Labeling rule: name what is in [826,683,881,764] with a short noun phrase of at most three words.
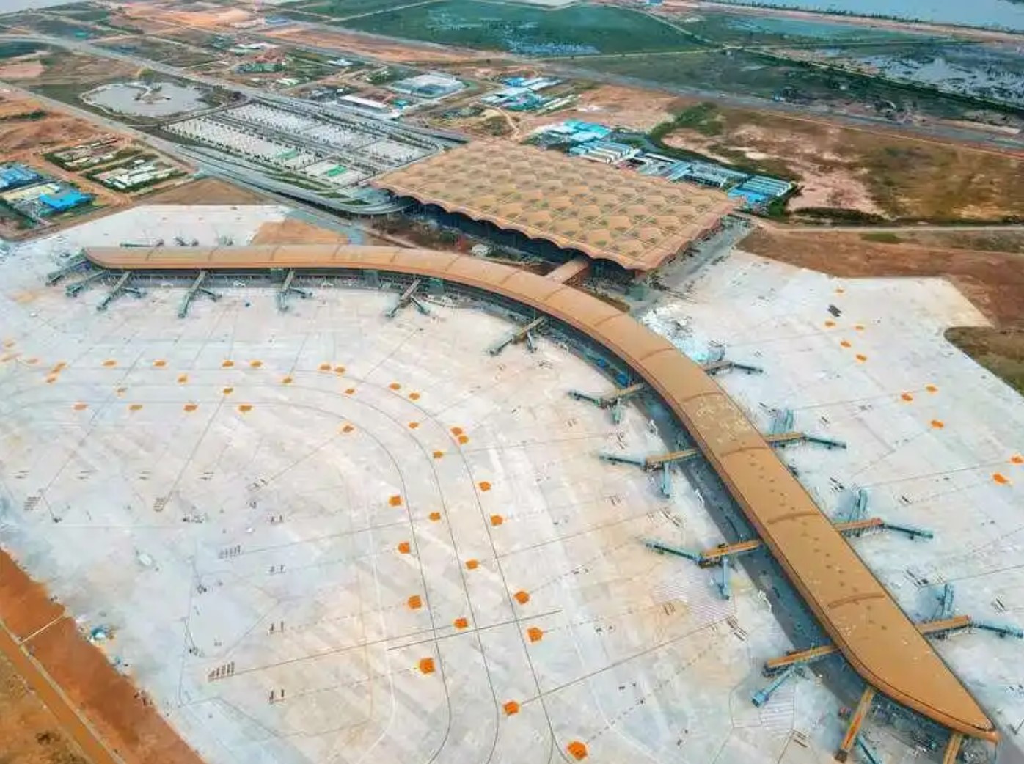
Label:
jet bridge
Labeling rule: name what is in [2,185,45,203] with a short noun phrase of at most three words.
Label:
shed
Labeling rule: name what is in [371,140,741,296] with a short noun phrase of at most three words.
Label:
building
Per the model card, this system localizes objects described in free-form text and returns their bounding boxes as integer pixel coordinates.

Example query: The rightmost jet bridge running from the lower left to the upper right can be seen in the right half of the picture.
[929,728,966,764]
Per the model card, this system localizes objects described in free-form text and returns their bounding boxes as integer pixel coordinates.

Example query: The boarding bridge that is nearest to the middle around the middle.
[492,315,549,357]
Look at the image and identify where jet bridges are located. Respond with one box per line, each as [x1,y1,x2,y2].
[644,539,769,601]
[97,270,142,311]
[176,236,199,245]
[917,584,1024,643]
[751,642,842,708]
[492,315,549,357]
[929,728,966,764]
[599,448,703,499]
[179,271,221,320]
[826,683,881,764]
[46,260,96,287]
[764,411,847,454]
[387,278,431,319]
[66,269,113,297]
[569,382,646,425]
[833,490,934,544]
[279,269,313,314]
[702,348,762,378]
